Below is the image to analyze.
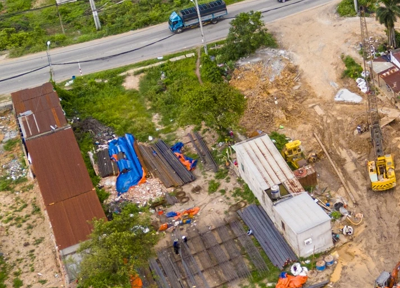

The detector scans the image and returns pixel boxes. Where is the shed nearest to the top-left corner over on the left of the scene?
[12,81,71,162]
